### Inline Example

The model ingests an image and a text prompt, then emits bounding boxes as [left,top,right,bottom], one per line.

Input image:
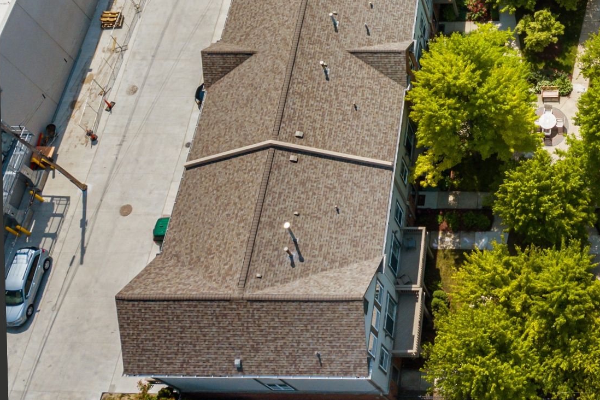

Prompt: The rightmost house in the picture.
[108,0,459,400]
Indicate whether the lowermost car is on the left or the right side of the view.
left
